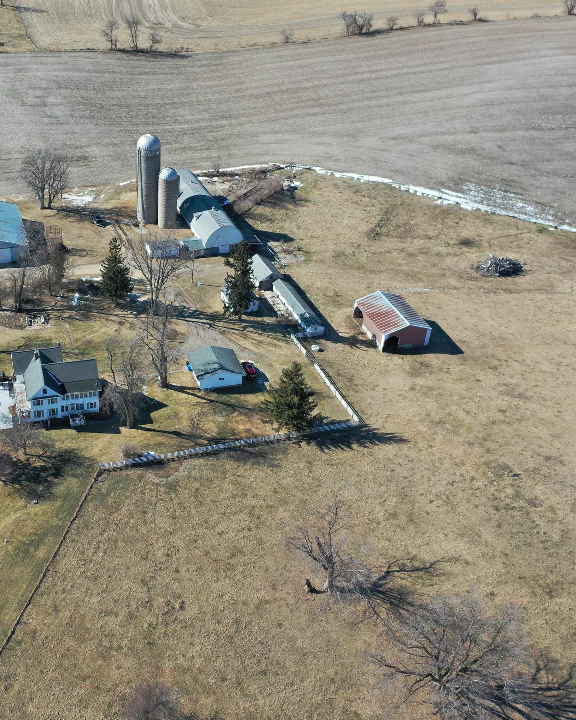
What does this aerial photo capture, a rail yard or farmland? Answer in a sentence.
It's farmland.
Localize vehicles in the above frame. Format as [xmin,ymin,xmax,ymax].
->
[242,364,258,381]
[92,213,103,225]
